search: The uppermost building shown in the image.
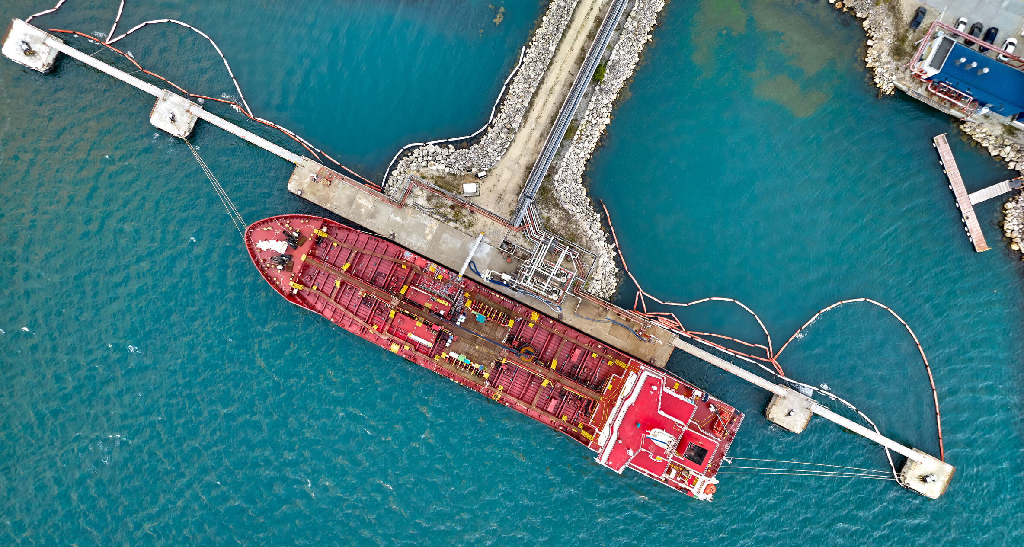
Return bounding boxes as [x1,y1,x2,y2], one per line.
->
[916,35,1024,116]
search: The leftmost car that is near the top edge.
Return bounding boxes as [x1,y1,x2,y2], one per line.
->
[911,5,929,29]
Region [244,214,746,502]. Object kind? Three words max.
ship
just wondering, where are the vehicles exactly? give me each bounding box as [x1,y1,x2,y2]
[998,35,1020,61]
[981,25,1000,51]
[952,15,970,37]
[911,5,929,29]
[966,20,986,45]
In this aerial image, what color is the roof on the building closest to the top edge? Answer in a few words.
blue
